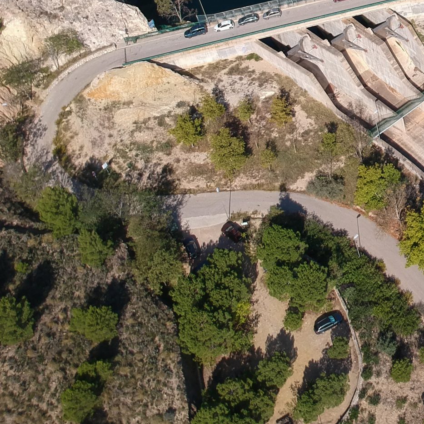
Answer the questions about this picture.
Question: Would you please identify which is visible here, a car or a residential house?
car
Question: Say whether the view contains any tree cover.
Yes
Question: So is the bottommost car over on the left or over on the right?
right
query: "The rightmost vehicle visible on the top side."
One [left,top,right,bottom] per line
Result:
[263,6,283,18]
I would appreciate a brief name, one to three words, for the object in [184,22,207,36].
car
